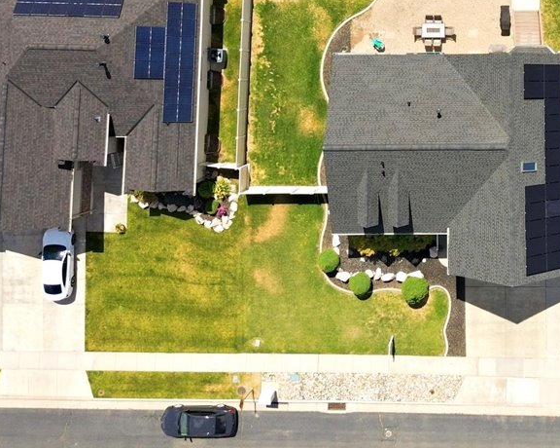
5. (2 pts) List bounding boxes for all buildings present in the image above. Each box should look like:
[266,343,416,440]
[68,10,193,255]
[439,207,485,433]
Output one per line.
[323,43,560,287]
[0,0,216,231]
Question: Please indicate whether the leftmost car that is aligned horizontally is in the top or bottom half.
bottom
